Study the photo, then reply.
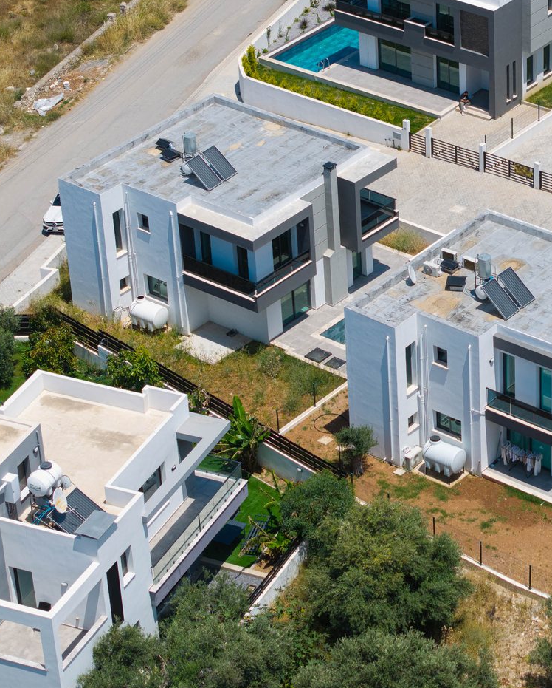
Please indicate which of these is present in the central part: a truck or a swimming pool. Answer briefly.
swimming pool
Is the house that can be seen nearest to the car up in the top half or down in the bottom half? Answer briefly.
top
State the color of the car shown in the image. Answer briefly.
white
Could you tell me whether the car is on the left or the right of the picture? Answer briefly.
left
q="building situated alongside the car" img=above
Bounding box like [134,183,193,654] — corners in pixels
[58,94,399,344]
